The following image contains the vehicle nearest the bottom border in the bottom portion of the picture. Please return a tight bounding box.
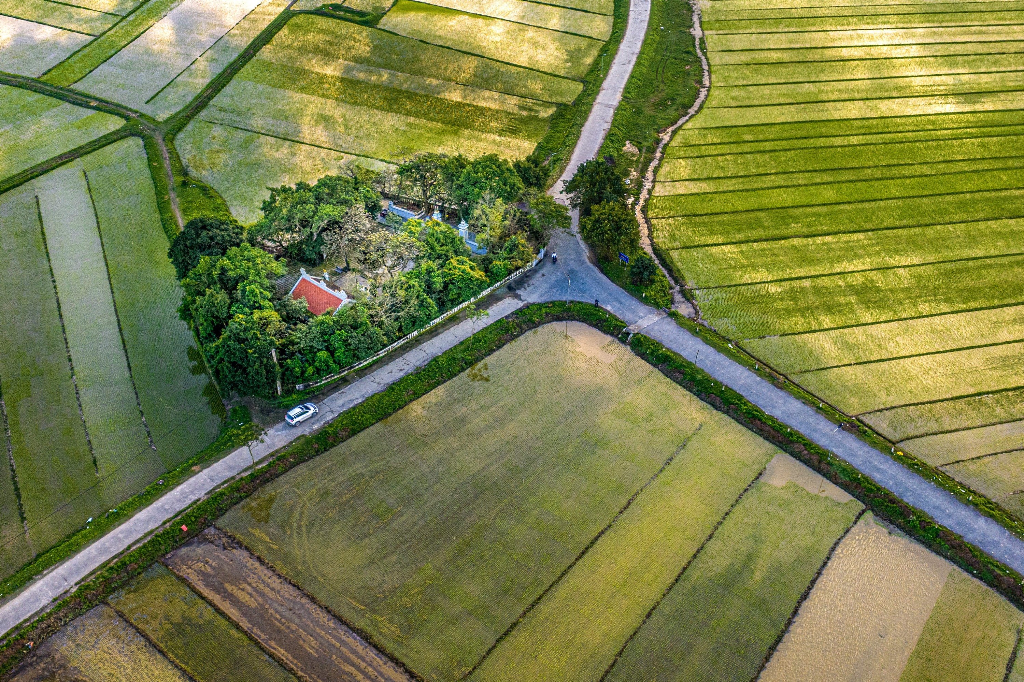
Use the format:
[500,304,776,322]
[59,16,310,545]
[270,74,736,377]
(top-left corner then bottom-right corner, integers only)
[282,403,319,428]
